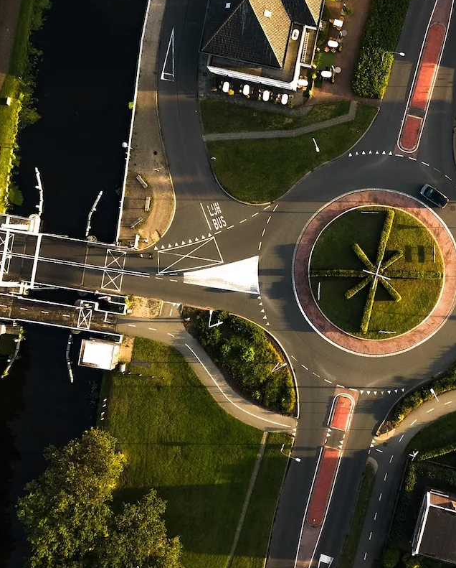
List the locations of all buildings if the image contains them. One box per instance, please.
[415,484,456,564]
[78,338,125,370]
[199,0,325,88]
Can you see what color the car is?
black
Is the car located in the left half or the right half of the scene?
right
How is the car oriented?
at an angle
